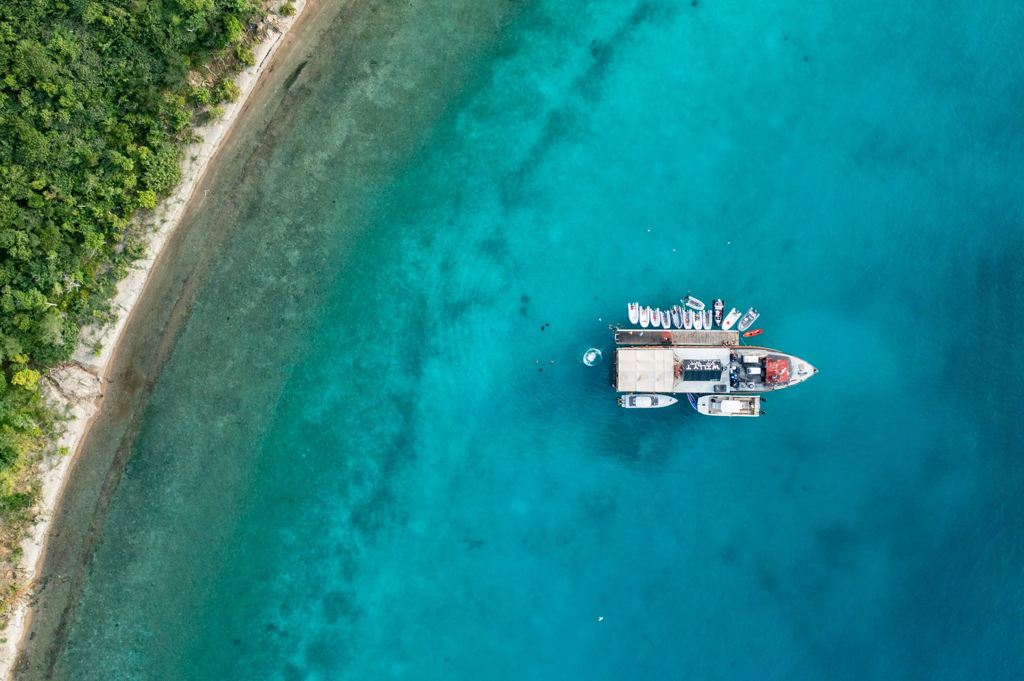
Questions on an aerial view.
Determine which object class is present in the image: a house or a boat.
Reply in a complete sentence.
It is a boat that can be seen here.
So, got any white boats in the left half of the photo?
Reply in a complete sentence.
No, there's no white boat to be seen in the left half of the photo.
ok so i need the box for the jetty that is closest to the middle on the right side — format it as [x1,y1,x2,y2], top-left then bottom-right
[614,329,672,344]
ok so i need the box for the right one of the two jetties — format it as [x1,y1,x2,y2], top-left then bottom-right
[672,330,739,345]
